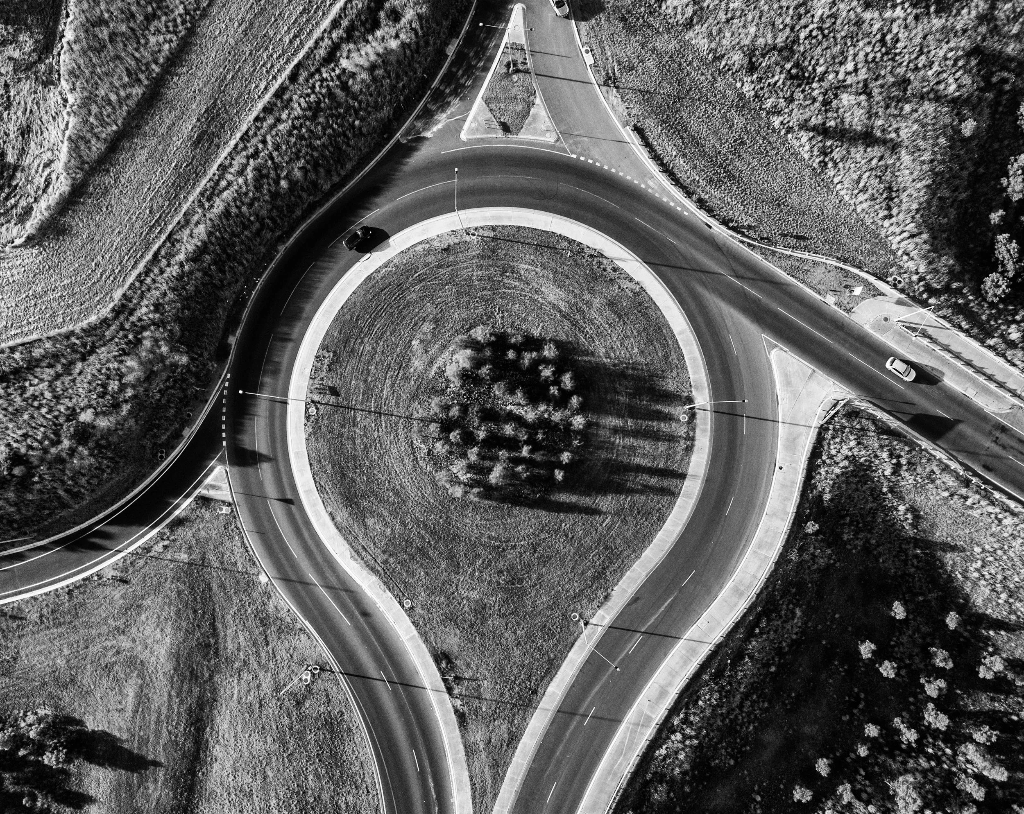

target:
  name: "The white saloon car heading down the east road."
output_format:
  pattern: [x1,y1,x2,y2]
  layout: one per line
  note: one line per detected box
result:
[881,355,916,383]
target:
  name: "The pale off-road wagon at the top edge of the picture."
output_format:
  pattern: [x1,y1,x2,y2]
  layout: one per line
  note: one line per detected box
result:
[545,0,567,20]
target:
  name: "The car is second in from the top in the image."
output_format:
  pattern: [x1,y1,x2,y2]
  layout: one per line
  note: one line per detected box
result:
[342,223,374,252]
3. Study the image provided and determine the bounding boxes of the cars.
[545,0,567,20]
[881,355,916,383]
[342,223,374,252]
